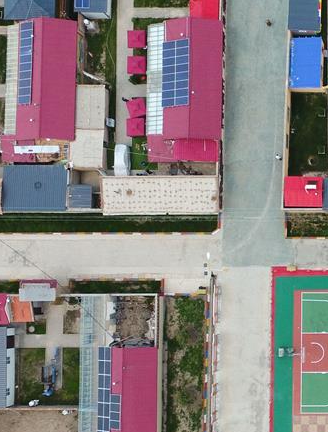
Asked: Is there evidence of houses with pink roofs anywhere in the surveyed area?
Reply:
Yes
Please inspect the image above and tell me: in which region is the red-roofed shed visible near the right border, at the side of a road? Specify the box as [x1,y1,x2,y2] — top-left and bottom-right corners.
[284,177,324,207]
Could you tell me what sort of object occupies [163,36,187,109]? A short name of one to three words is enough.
solar array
